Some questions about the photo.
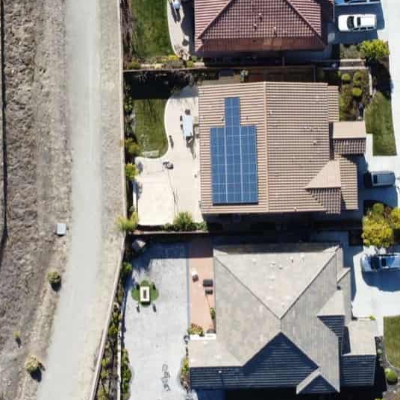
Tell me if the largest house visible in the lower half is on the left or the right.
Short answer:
right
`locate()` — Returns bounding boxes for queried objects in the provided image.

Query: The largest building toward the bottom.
[189,243,377,394]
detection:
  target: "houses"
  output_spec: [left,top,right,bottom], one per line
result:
[189,243,377,394]
[194,0,335,52]
[198,82,366,213]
